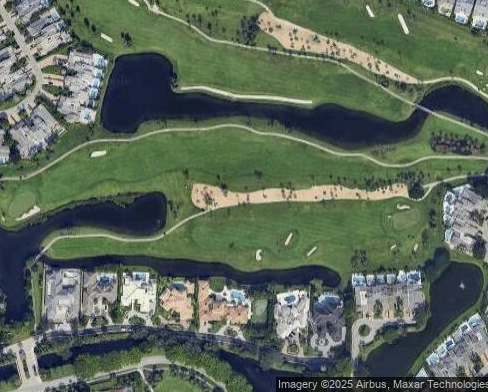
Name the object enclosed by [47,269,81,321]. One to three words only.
house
